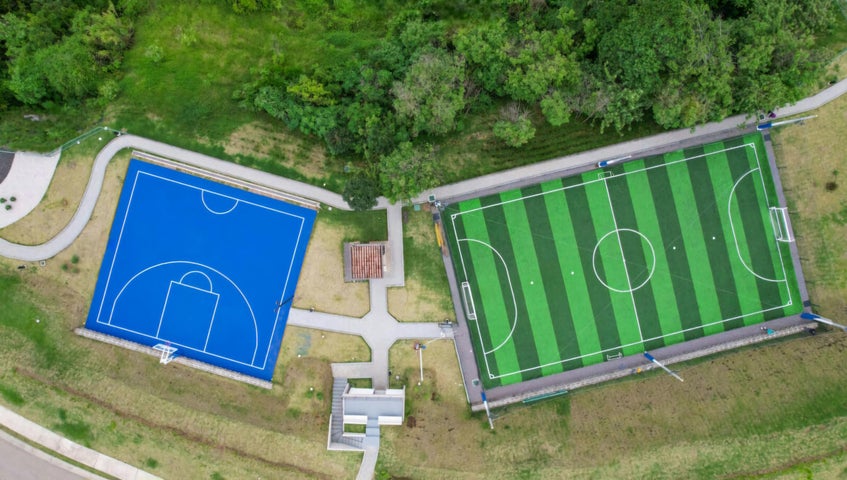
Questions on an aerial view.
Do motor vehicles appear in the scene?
No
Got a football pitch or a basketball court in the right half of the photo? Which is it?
football pitch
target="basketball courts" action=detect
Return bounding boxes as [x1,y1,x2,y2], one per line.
[84,158,317,383]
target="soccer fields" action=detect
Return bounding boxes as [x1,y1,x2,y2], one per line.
[442,133,803,389]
